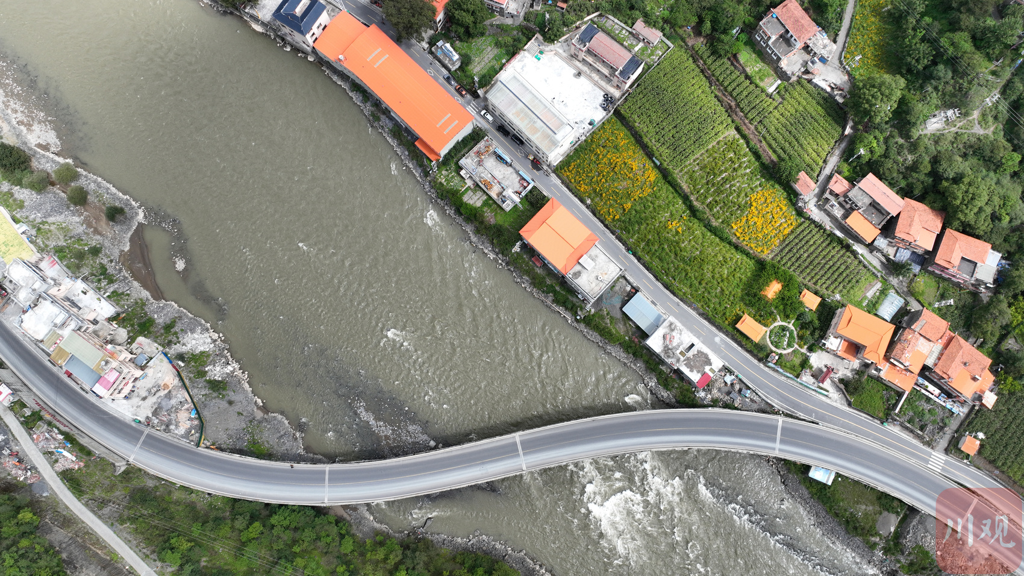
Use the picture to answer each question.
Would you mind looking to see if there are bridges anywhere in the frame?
Yes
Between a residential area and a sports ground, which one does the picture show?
residential area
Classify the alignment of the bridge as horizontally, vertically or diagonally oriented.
horizontally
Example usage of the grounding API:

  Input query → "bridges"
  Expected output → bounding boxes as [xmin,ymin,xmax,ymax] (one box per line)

[129,409,976,529]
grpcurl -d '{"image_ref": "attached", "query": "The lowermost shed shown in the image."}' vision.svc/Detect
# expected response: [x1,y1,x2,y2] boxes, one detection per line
[805,466,836,485]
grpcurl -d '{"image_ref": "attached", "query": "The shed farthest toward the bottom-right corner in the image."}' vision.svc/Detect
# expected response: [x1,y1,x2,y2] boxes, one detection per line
[953,436,980,455]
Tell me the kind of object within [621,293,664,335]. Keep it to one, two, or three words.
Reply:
shed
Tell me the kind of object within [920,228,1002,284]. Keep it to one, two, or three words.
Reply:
house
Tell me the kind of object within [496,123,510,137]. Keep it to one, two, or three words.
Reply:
car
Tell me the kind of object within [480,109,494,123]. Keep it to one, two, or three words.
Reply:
car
